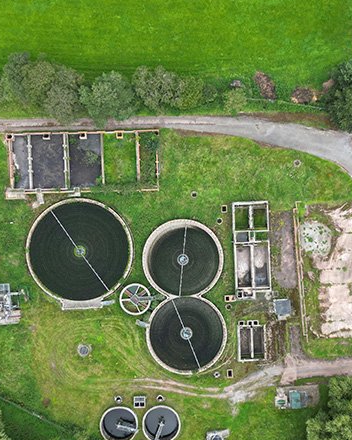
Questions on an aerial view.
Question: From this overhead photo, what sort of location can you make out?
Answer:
industrial area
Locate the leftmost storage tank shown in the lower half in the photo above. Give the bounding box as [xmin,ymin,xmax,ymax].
[100,405,139,440]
